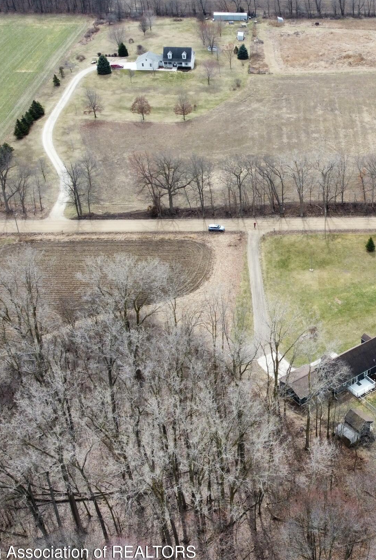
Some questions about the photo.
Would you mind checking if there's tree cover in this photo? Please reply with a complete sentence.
Yes, some tree cover is visible.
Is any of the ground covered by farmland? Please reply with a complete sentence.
Yes, farmland can be seen from above here.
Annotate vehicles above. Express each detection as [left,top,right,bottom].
[109,62,124,68]
[208,225,225,233]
